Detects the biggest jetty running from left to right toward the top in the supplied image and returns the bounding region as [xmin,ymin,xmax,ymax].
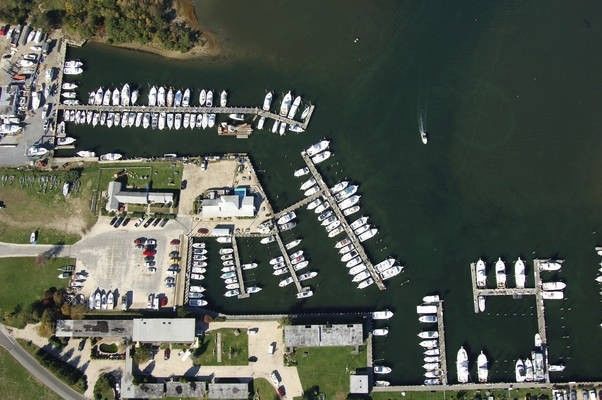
[59,104,315,130]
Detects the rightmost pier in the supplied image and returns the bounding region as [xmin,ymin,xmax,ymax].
[470,258,564,384]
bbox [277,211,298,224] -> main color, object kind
white boat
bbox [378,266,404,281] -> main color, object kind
white boat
